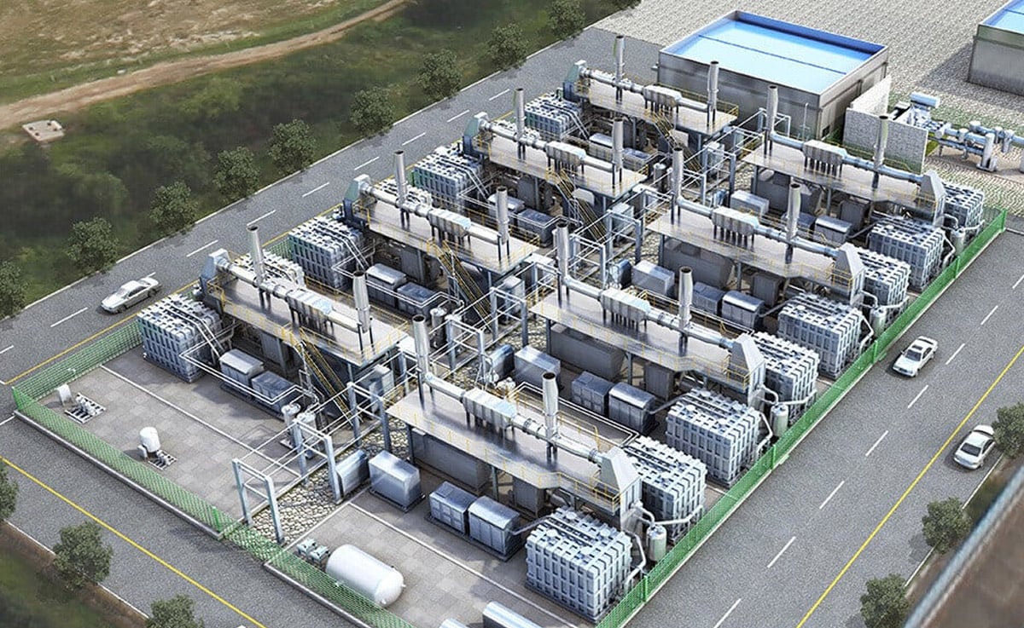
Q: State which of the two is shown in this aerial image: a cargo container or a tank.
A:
tank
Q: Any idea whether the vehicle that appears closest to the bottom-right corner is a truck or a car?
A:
car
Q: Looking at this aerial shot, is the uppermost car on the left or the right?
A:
left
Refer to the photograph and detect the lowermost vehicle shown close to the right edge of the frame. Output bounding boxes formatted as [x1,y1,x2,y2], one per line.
[946,422,995,472]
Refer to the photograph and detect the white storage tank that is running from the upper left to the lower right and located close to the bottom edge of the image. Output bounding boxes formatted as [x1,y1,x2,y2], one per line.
[326,543,409,610]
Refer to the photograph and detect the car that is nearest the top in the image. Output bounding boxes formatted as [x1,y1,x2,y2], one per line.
[103,270,169,309]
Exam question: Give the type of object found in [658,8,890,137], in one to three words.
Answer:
building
